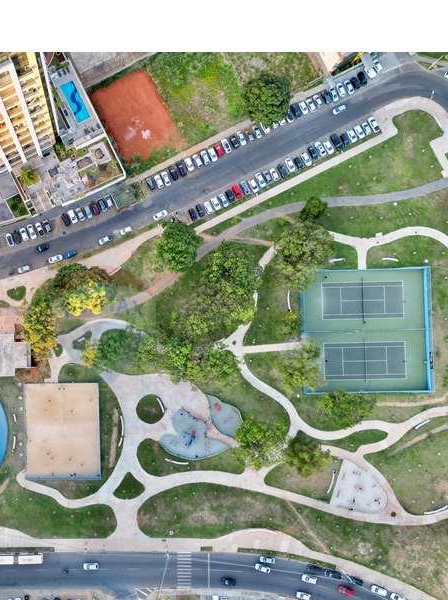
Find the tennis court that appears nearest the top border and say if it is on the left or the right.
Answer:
right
